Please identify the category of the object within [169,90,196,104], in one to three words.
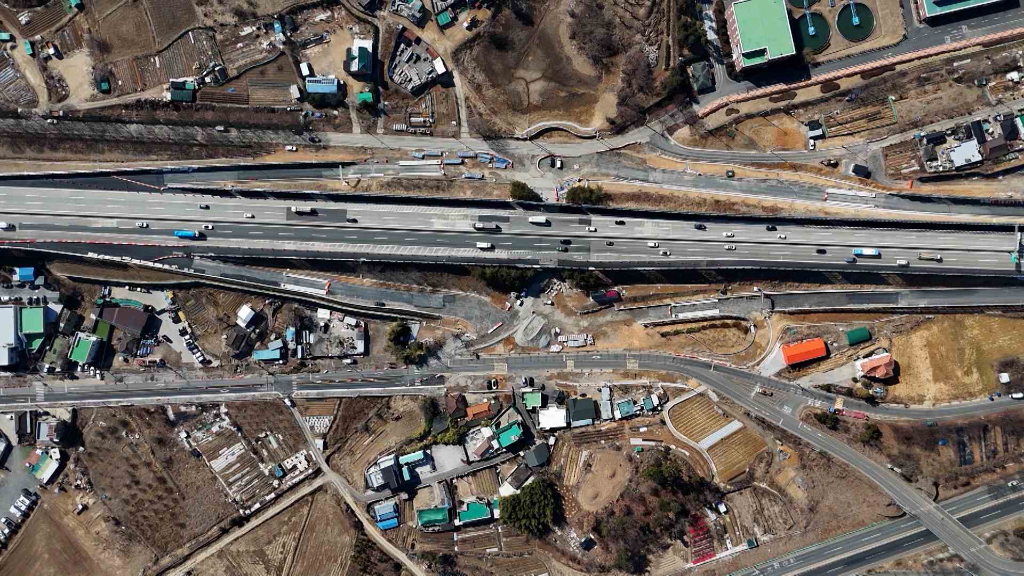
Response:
shed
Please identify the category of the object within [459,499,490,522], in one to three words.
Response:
house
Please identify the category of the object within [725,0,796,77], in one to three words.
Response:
building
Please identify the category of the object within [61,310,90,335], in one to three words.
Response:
barn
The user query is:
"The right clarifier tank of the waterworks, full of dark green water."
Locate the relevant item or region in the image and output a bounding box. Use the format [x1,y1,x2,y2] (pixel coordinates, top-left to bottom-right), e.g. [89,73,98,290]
[835,0,877,42]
